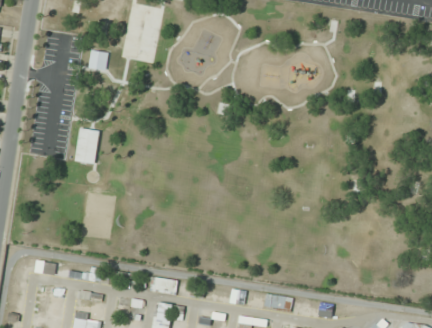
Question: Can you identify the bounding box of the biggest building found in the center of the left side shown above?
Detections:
[75,128,100,164]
